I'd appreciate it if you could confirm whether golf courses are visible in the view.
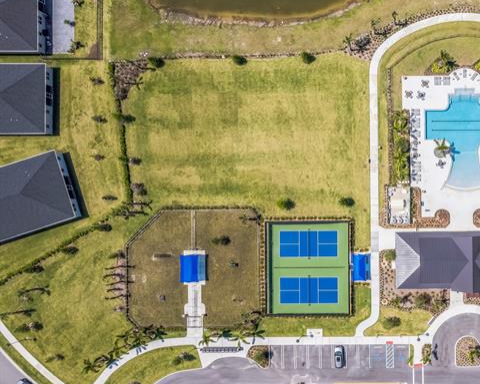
No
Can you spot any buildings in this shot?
Yes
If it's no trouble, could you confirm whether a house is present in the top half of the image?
Yes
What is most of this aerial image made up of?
grass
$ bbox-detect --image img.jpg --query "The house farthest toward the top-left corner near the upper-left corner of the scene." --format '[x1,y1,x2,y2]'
[0,0,44,53]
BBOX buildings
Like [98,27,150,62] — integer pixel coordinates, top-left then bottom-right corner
[0,150,81,242]
[396,231,480,294]
[0,0,44,53]
[0,62,52,133]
